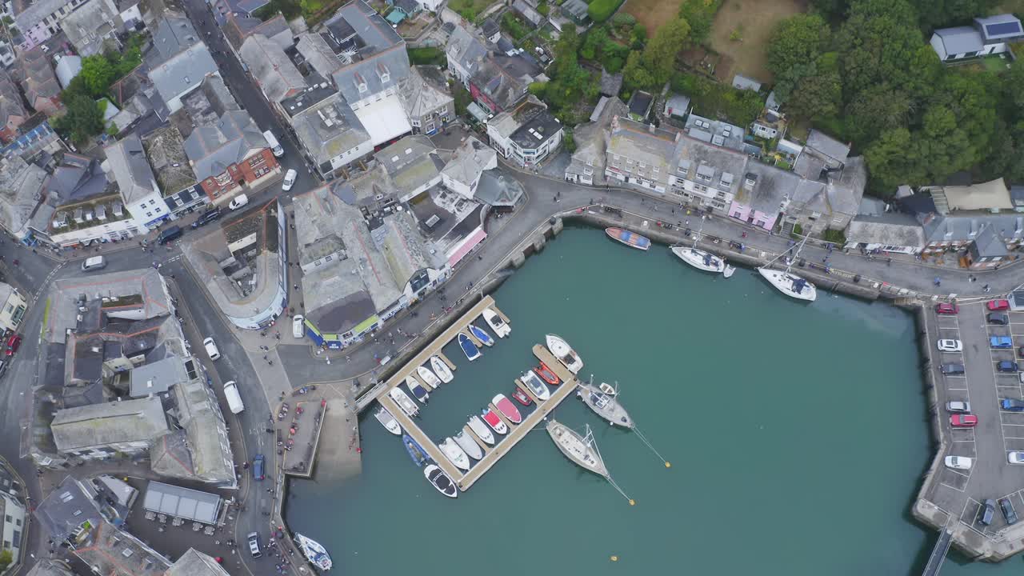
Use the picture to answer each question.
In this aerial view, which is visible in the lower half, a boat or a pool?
boat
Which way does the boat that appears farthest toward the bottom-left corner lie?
diagonally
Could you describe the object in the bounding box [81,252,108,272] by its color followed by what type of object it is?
white vehicle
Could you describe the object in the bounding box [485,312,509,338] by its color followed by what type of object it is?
white boat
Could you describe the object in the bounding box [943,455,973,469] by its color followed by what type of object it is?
white car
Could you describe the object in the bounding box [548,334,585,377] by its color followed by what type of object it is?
white boat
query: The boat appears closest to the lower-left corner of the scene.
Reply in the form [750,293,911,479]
[290,532,335,572]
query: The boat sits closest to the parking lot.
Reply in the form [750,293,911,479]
[761,242,818,303]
